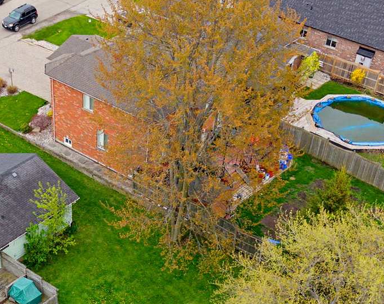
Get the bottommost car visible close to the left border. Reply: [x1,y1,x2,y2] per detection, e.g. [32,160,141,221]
[5,5,45,33]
